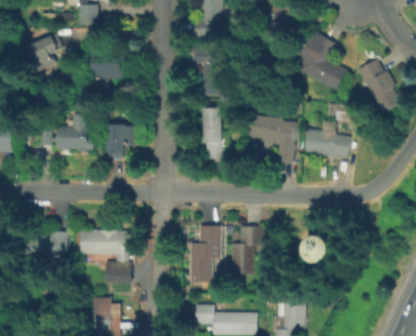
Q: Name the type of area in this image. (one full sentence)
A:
The picture captures a residential area.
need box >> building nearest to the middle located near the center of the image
[201,108,224,158]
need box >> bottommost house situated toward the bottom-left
[92,296,122,336]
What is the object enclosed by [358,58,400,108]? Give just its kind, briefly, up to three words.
house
